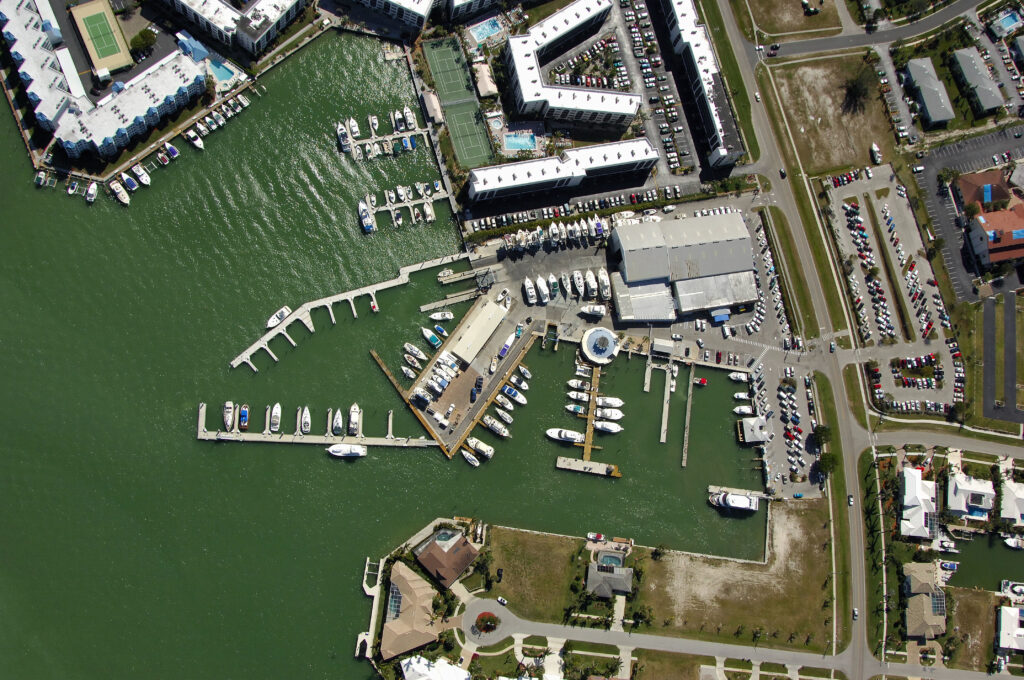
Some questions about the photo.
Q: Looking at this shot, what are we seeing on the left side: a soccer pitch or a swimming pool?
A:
swimming pool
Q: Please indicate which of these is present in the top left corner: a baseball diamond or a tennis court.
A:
tennis court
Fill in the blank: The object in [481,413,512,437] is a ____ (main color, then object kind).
white boat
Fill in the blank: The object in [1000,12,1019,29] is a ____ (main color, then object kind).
blue swimming pool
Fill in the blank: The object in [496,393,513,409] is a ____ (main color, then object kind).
white boat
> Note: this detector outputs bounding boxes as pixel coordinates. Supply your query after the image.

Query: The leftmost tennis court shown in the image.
[70,0,135,77]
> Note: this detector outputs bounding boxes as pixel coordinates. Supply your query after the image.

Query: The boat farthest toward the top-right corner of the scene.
[868,142,882,166]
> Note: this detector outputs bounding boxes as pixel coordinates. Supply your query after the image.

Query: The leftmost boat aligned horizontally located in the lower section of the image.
[327,443,368,456]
